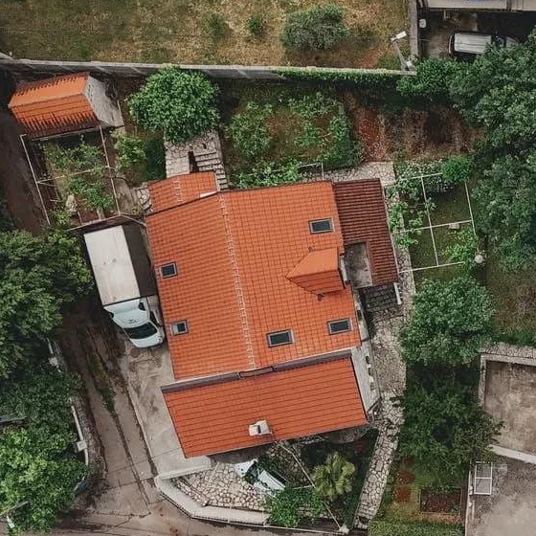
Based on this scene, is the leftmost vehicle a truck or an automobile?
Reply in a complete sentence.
Looking closely, the leftmost vehicle is a truck.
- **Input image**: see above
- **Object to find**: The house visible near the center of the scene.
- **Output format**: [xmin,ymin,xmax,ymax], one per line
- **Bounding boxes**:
[142,172,402,459]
